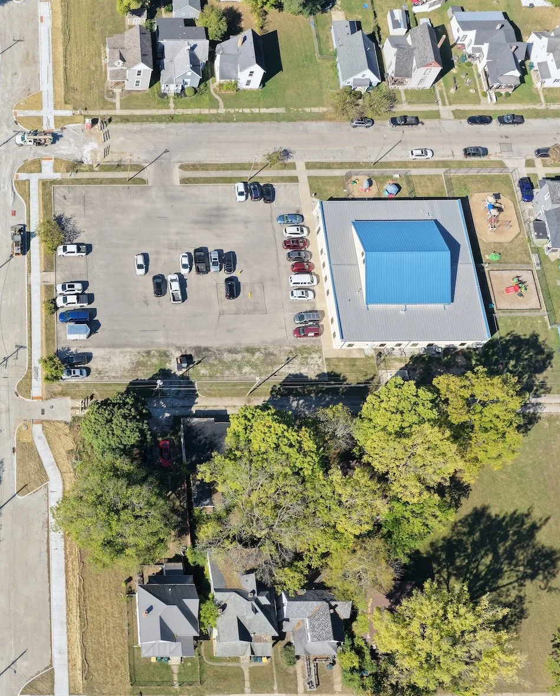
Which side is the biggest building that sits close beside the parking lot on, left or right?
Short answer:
right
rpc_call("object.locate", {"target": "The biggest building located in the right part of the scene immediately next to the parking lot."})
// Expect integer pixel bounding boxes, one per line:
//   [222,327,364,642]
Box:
[314,201,494,350]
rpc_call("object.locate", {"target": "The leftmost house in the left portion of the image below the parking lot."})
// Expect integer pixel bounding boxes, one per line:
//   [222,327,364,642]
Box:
[136,563,201,657]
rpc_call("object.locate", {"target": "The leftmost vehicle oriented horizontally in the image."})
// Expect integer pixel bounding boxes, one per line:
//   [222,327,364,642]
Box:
[13,132,53,147]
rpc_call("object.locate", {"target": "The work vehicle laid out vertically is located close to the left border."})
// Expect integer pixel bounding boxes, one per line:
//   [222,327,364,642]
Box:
[12,226,24,254]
